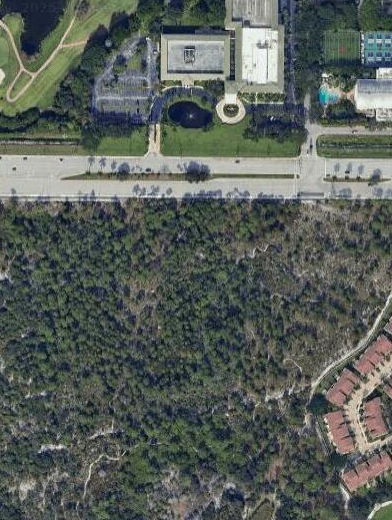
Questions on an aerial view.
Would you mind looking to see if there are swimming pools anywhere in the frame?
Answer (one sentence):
Yes, the frame does contain a swimming pool.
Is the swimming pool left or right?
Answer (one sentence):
The swimming pool sits on the right side.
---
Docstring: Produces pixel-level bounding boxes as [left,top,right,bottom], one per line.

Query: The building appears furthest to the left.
[160,34,230,80]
